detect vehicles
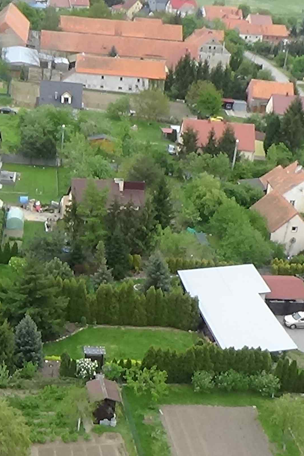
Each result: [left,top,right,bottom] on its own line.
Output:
[165,140,175,152]
[0,107,18,116]
[225,102,233,109]
[284,311,304,327]
[209,112,225,121]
